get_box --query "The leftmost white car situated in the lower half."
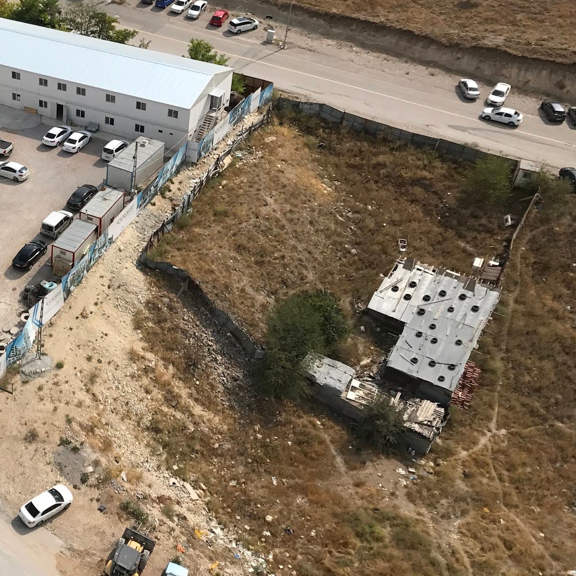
[19,485,73,527]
